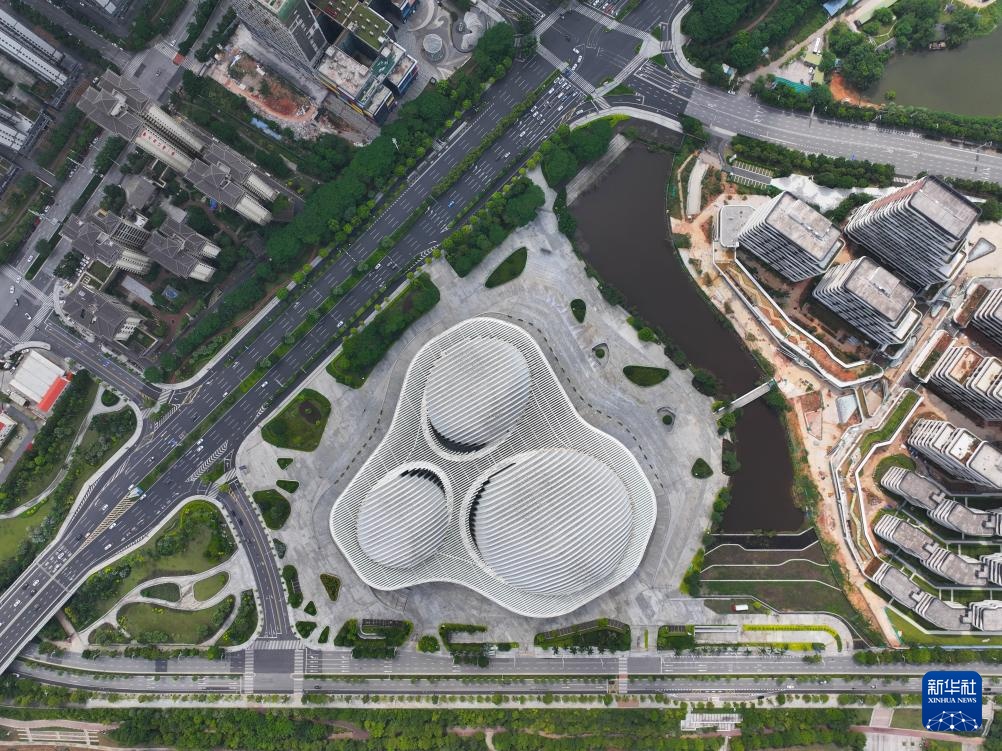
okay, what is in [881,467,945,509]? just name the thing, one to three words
house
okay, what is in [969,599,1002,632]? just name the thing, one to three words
house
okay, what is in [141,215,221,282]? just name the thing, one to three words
building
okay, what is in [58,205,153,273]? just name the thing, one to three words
building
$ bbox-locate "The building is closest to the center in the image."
[331,317,656,618]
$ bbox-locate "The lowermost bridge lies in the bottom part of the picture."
[0,562,69,673]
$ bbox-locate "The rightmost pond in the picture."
[865,24,1002,116]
